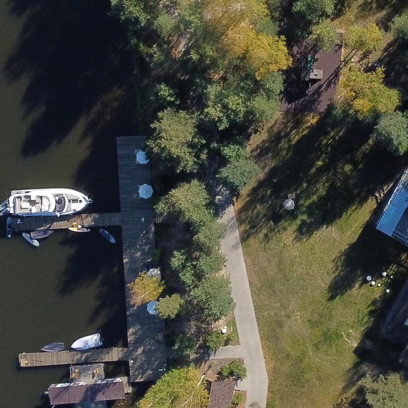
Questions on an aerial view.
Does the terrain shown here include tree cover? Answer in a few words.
Yes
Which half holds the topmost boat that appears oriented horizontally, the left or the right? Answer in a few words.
left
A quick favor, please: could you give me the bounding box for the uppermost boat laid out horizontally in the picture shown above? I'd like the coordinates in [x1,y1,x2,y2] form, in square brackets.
[10,190,95,217]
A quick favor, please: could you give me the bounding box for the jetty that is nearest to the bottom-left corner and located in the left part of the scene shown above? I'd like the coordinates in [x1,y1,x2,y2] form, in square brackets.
[19,347,130,367]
